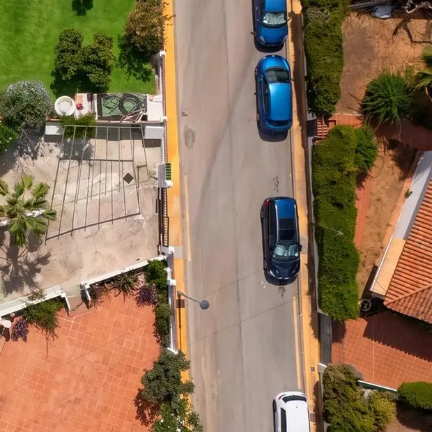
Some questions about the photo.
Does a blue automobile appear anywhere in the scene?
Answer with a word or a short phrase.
Yes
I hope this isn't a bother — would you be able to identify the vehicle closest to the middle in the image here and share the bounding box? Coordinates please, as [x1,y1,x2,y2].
[259,197,307,279]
